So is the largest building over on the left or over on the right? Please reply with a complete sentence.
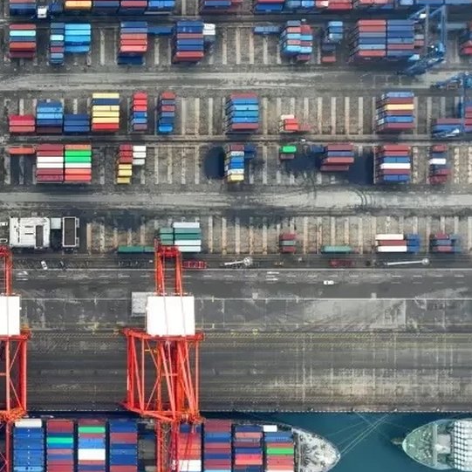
The largest building appears in the left half of the scene.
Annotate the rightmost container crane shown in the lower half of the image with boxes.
[116,245,206,472]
